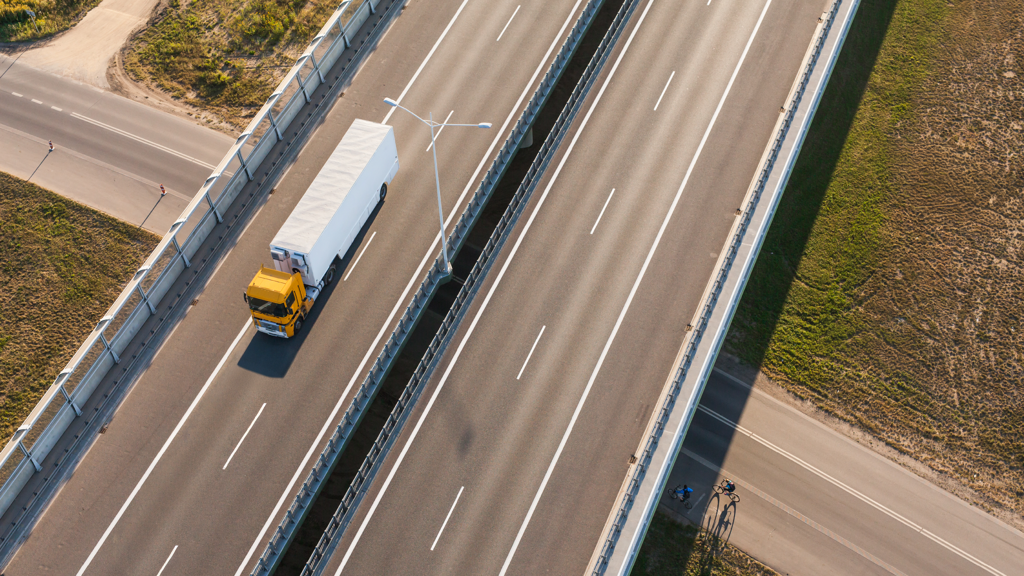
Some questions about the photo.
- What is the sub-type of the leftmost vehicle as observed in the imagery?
truck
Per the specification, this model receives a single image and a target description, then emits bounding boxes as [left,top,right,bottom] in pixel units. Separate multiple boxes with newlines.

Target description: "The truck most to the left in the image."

[244,119,398,337]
